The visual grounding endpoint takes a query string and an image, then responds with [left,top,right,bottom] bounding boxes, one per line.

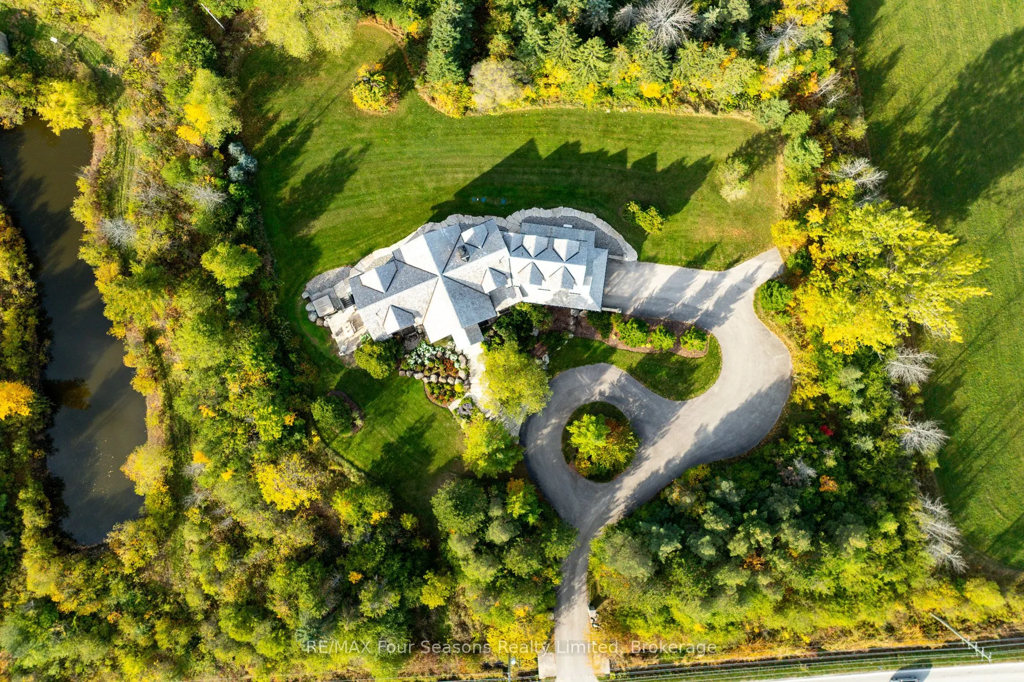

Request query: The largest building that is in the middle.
[349,219,609,351]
